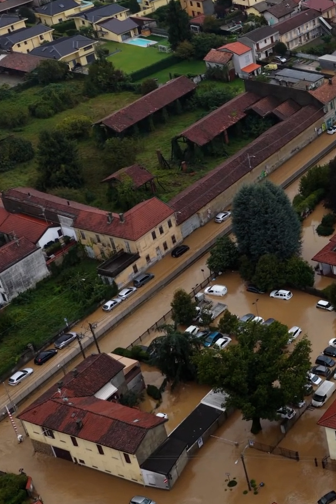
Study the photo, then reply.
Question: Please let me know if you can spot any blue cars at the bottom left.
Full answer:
No, no blue car is visible at the bottom left.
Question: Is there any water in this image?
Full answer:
Yes, there is water in the image.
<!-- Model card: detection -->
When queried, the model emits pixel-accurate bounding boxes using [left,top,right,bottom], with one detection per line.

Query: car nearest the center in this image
[169,244,191,258]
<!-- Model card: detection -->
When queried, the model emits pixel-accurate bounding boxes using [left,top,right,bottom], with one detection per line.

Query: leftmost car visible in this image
[4,368,36,386]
